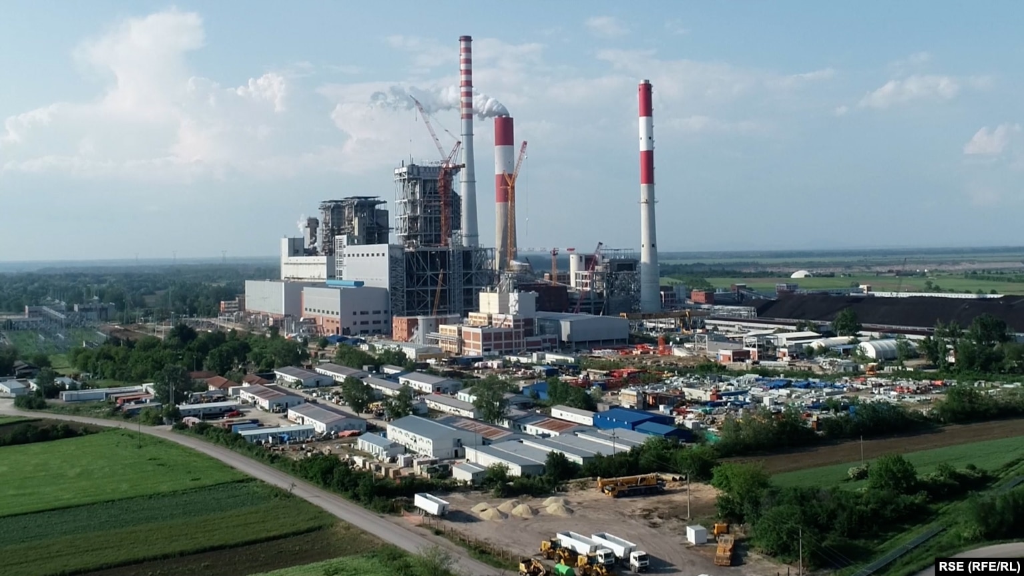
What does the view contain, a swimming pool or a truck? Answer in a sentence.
There is a truck in the scene.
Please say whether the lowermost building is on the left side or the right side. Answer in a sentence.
The lowermost building is on the right side of the image.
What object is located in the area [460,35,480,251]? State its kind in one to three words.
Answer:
chimney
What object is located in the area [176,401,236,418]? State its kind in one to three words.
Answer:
shed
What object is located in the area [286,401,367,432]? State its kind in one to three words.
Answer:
building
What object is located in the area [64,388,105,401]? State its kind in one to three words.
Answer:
shed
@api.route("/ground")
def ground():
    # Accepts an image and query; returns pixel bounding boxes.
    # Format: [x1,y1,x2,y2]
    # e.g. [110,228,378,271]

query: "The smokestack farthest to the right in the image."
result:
[640,79,661,312]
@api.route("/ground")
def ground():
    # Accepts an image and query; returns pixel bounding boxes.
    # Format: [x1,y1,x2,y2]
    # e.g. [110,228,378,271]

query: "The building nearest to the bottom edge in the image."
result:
[686,524,707,544]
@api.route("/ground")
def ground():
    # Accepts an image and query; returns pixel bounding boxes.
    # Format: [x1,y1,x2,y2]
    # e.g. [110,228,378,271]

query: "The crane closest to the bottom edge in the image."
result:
[598,472,667,498]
